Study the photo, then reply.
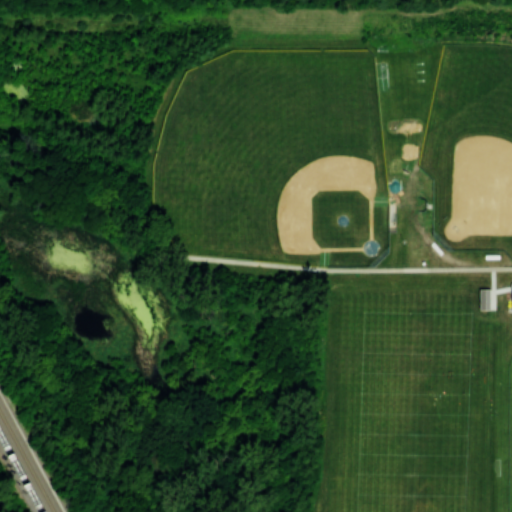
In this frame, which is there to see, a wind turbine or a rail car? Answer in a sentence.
There is a rail car in the scene.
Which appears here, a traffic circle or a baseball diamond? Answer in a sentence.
This aerial view contains a baseball diamond.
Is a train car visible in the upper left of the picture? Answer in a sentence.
No, the scene shows no train car in the upper left of the picture.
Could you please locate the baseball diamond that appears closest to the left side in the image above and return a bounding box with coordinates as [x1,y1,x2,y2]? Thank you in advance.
[153,51,388,266]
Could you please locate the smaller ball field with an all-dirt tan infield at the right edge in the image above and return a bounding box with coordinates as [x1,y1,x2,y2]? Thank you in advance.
[421,42,512,250]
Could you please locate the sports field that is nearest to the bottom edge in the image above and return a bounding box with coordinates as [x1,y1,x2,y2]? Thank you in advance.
[340,292,484,512]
